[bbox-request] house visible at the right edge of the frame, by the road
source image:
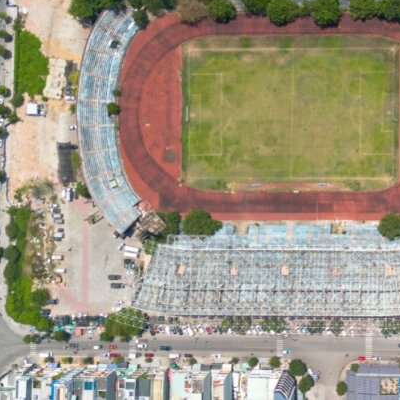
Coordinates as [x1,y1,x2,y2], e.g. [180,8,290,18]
[345,361,400,400]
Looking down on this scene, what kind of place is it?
sports ground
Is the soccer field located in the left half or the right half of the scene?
right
